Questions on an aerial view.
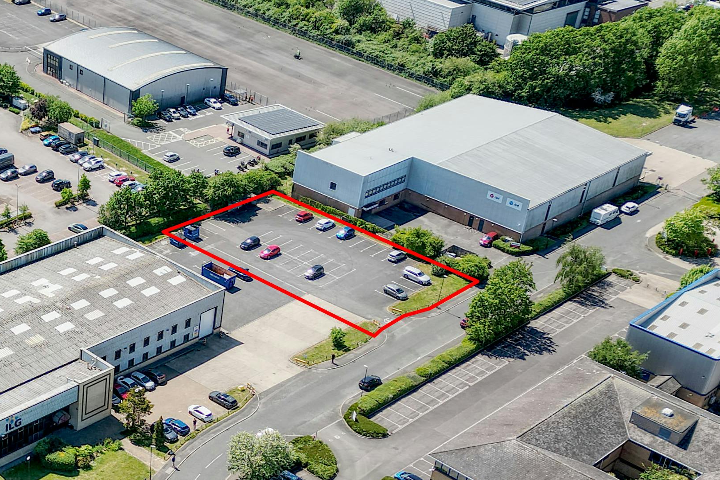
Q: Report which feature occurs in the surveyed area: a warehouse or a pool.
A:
warehouse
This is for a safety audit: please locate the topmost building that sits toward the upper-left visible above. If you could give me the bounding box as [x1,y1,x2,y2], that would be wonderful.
[42,26,229,116]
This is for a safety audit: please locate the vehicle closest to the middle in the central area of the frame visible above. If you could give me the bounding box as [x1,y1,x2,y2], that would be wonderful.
[333,225,358,242]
